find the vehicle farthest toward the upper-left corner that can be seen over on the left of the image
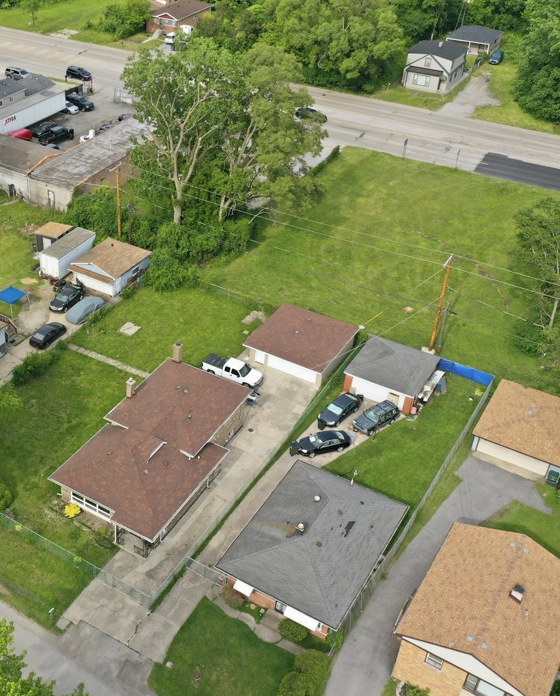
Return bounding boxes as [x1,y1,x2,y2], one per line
[3,66,32,81]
